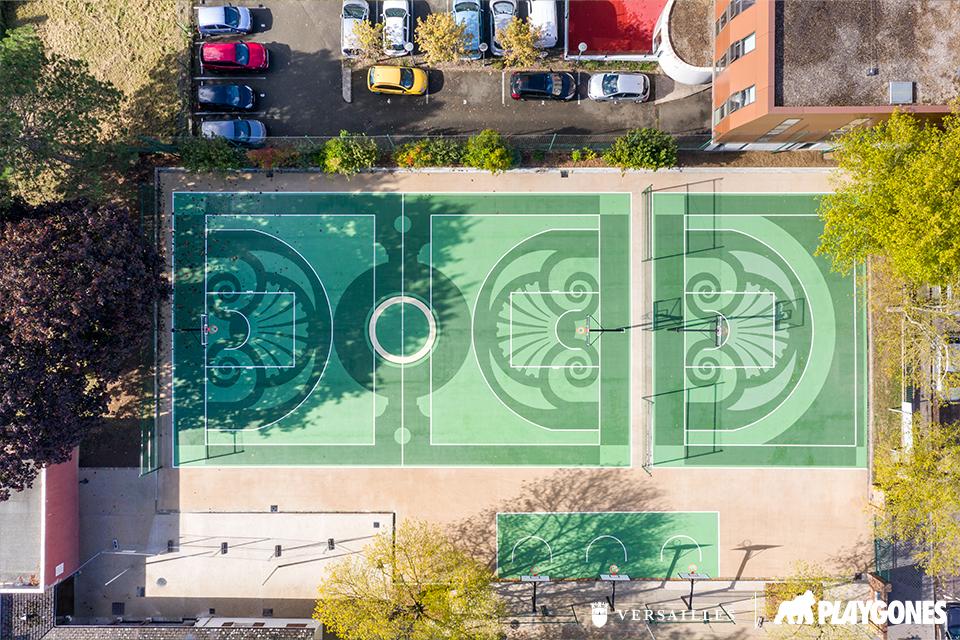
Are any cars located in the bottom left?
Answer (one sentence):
No, I see no car in the bottom left.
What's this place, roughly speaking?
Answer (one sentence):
The picture captures a sports ground.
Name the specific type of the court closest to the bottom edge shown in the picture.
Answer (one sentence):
I'd say the court closest to the bottom edge is a basketball court.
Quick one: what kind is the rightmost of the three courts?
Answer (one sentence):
It turns out the rightmost of the three courts is a basketball court.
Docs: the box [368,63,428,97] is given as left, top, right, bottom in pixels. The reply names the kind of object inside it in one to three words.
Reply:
car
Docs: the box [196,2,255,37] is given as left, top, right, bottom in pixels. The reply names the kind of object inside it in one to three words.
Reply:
car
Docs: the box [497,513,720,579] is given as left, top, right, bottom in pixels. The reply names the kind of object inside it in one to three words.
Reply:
basketball court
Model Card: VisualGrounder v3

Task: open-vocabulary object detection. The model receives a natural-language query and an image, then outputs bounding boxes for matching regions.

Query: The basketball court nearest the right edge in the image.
[652,192,867,468]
